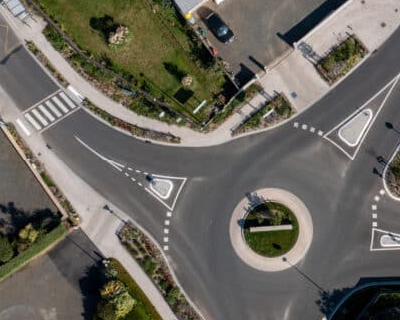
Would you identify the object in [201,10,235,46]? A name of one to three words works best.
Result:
car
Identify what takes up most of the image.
paved ground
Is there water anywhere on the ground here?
No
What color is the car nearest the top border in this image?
black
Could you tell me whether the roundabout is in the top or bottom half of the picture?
bottom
